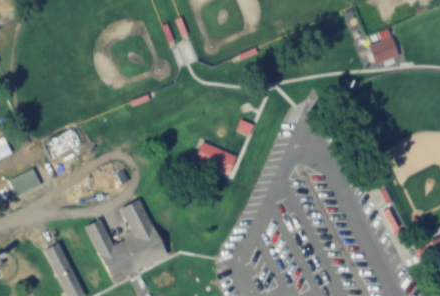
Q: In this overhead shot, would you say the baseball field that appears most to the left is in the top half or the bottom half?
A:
top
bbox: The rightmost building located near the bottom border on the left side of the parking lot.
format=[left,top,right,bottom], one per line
[84,198,168,284]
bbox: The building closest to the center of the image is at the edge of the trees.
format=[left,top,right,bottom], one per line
[200,142,238,176]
